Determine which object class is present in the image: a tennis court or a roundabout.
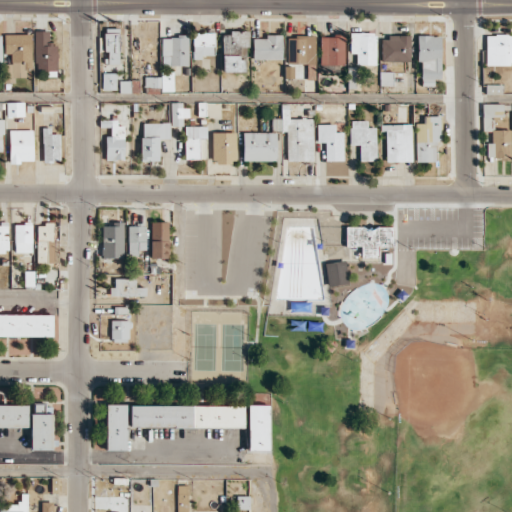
tennis court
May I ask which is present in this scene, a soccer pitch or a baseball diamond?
baseball diamond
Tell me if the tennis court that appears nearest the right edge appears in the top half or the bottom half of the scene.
bottom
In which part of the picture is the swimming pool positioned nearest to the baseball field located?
center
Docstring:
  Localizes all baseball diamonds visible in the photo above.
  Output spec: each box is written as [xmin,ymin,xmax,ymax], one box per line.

[395,342,476,435]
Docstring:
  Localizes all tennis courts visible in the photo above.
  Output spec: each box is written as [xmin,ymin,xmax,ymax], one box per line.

[222,325,243,371]
[196,324,218,370]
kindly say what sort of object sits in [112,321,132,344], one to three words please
house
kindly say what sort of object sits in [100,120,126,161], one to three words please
house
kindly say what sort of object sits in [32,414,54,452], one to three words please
building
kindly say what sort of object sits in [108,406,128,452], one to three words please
building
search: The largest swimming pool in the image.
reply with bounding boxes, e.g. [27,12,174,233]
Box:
[268,218,331,317]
